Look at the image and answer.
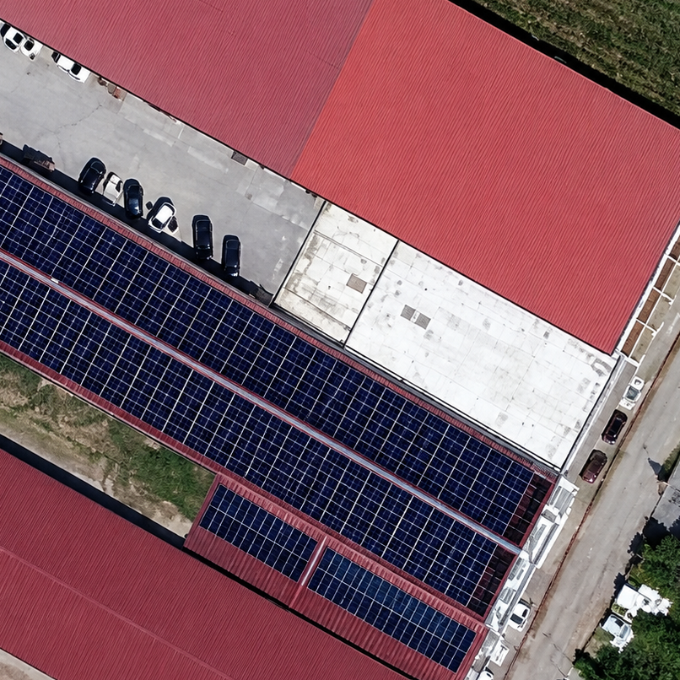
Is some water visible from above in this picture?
No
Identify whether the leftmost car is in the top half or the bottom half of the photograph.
top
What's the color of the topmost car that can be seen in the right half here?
white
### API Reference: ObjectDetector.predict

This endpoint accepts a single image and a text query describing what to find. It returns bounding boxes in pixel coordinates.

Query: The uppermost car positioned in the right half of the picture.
[620,374,646,413]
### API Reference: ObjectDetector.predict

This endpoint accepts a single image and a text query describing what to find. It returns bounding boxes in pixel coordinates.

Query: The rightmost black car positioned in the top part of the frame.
[222,235,241,279]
